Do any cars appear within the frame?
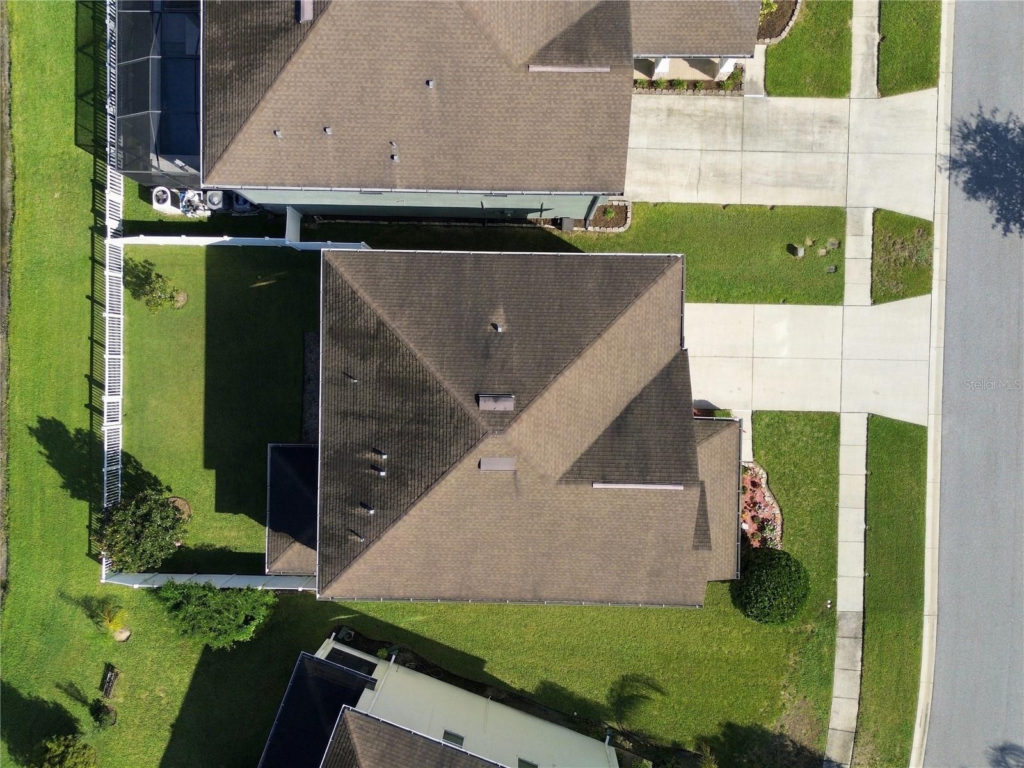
No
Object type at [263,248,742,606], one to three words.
house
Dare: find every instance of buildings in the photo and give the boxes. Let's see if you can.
[259,626,615,768]
[263,248,742,606]
[203,0,760,225]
